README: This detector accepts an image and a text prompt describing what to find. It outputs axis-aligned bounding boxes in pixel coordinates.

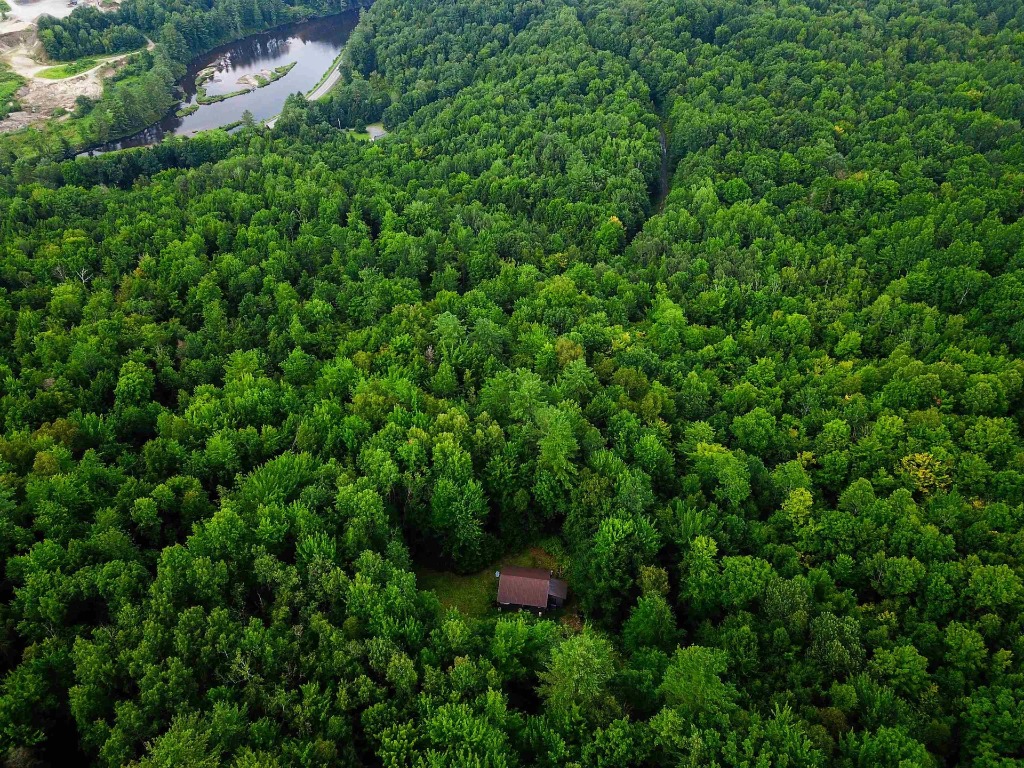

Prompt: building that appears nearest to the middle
[496,566,568,613]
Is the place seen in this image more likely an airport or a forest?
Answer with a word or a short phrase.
forest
